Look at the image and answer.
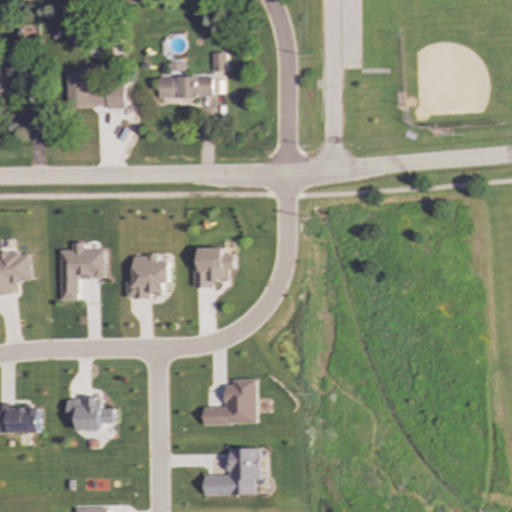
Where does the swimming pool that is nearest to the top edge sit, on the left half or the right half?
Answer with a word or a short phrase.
left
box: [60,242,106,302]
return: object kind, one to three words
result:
house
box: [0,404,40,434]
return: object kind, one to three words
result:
house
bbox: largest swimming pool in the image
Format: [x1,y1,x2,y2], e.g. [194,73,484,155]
[163,32,190,60]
